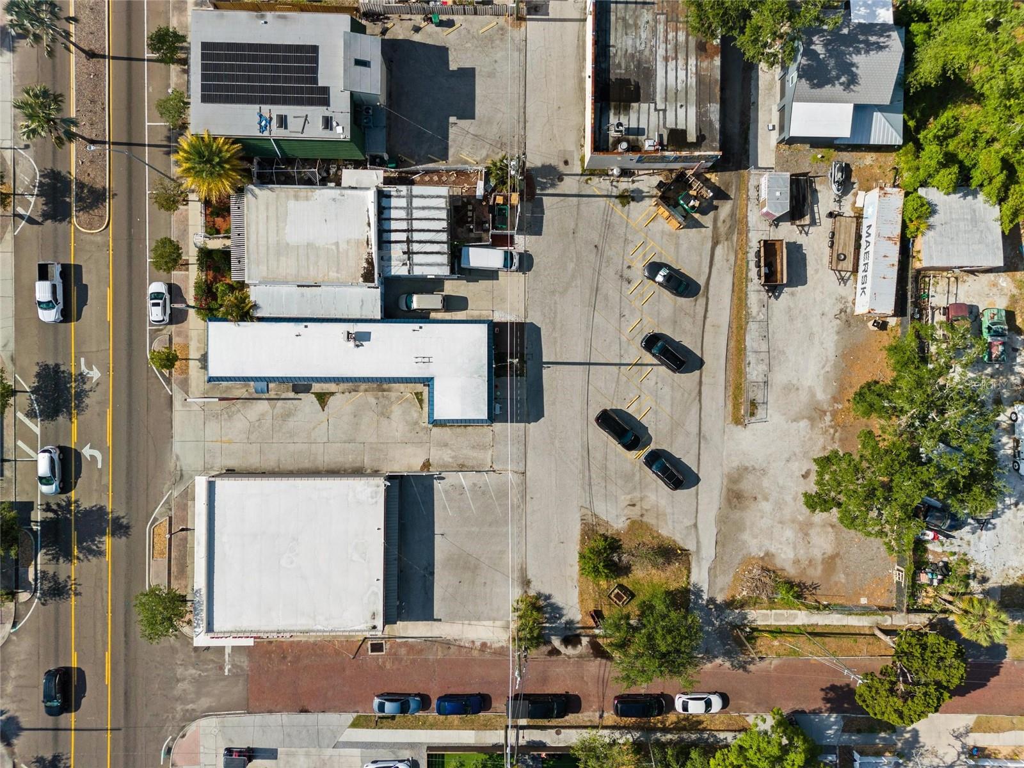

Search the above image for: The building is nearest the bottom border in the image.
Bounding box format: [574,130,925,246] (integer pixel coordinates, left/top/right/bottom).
[194,473,402,645]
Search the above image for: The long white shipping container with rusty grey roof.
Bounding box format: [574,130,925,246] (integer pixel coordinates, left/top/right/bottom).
[855,187,904,317]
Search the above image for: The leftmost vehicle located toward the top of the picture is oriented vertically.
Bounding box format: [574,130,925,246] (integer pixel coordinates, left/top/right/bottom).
[34,260,64,321]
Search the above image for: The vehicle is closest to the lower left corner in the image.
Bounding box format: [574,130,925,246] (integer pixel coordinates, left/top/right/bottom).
[41,667,69,719]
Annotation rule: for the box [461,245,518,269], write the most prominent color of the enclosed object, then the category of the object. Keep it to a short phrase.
white vehicle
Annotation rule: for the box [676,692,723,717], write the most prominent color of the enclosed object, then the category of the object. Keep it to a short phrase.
white car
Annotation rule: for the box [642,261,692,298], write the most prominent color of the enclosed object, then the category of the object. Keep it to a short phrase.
black car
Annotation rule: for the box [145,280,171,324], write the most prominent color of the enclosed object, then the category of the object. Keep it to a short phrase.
white car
